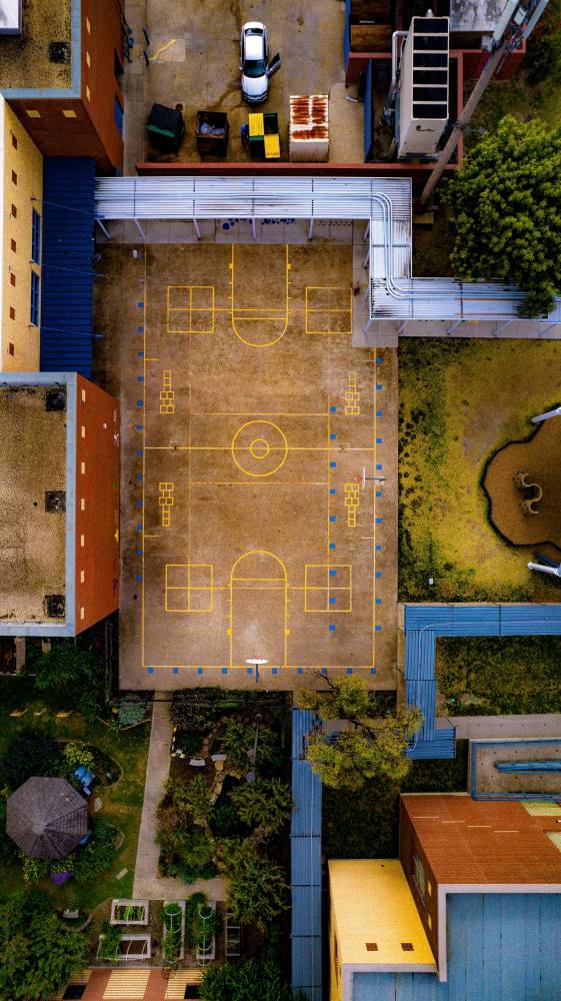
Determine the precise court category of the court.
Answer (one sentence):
The court in the image is a basketball court.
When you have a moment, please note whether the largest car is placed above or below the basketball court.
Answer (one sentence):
Looking at the scene, the largest car is located above the basketball court.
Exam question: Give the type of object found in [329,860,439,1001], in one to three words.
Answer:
building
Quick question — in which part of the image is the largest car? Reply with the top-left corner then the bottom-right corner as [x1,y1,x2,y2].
[237,22,284,105]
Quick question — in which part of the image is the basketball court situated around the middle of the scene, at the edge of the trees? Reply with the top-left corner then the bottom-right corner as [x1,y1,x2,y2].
[96,243,398,691]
